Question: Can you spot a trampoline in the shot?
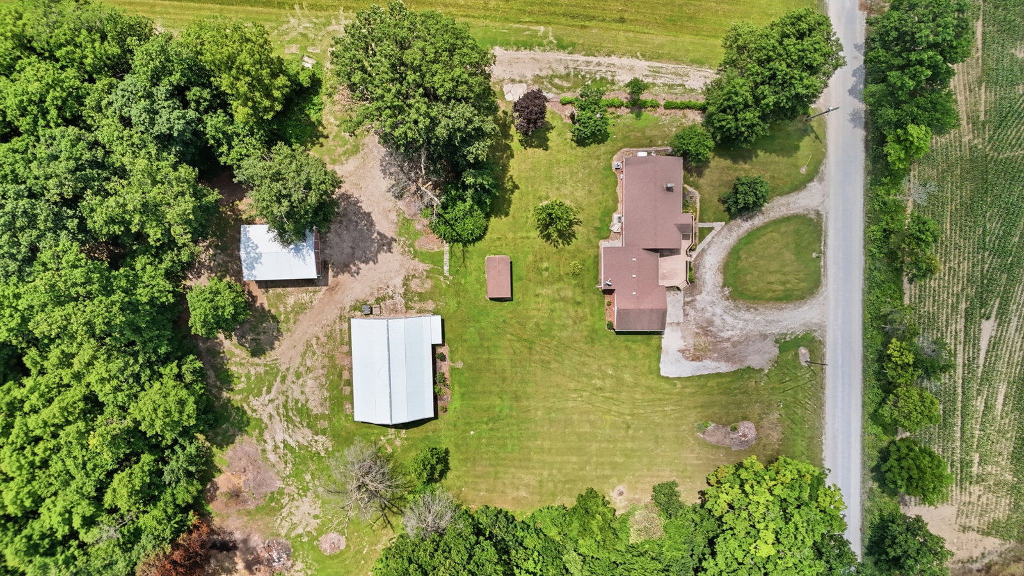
No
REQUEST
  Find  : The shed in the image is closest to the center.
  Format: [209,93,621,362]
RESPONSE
[485,255,512,299]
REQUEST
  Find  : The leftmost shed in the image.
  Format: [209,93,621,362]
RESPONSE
[240,224,322,281]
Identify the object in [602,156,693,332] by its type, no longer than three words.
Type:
house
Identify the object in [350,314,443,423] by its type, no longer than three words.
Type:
barn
